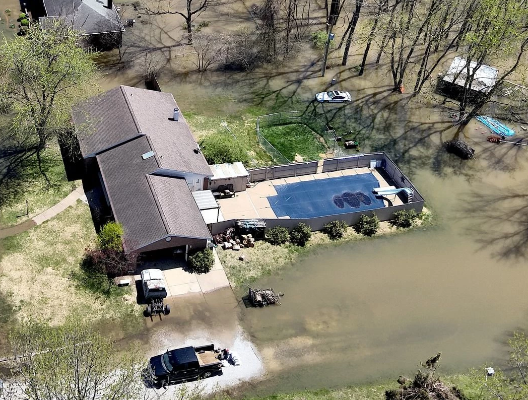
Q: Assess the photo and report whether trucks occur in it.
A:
Yes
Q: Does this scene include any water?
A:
Yes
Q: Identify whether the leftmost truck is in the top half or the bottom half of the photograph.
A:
bottom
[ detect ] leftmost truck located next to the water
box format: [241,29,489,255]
[134,267,175,343]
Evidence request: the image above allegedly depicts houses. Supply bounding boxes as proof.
[33,0,127,56]
[72,84,213,264]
